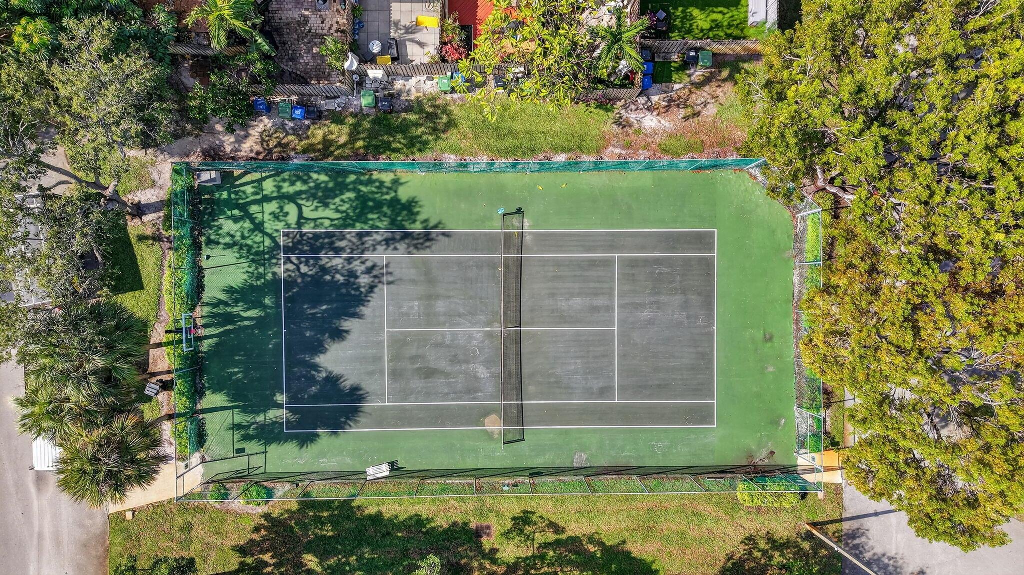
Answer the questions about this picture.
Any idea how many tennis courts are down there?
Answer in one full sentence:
There is 1 tennis court in the image.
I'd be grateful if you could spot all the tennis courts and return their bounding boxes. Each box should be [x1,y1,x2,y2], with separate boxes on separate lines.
[206,172,793,475]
